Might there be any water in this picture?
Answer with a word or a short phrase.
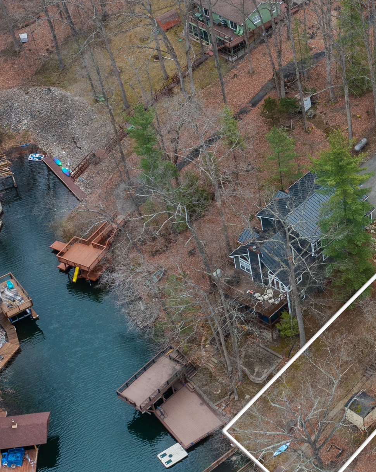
Yes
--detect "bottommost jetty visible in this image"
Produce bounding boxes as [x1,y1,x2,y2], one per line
[116,344,227,451]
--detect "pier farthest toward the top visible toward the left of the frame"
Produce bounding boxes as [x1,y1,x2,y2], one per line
[43,156,86,203]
